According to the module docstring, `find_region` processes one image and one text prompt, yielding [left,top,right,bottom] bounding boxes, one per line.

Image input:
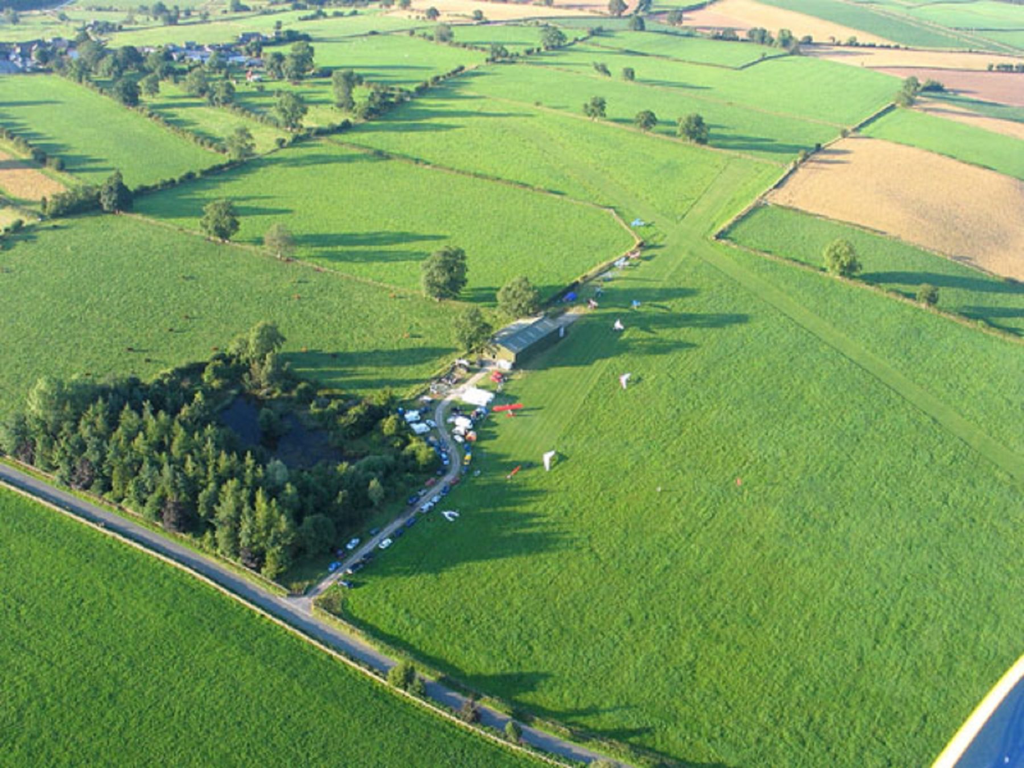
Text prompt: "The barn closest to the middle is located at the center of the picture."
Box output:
[485,310,570,366]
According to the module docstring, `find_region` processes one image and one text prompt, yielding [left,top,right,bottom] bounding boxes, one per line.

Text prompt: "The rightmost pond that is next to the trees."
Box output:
[275,412,339,464]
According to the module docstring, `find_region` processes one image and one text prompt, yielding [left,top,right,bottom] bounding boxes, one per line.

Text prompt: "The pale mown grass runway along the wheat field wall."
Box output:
[655,162,784,250]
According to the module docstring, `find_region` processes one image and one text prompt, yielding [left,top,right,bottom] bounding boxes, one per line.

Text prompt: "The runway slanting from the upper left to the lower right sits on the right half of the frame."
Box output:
[535,137,1024,483]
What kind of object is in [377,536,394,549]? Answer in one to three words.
vehicle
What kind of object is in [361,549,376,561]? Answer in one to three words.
vehicle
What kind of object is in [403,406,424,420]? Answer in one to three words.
camper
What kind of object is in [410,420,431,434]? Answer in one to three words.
camper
